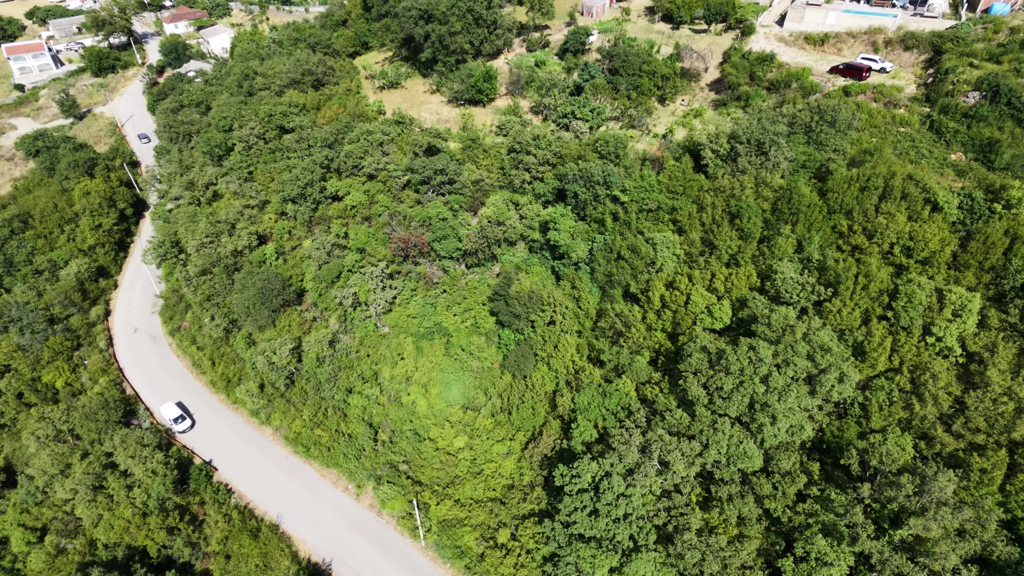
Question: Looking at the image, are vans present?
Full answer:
Yes, the frame does contain a van.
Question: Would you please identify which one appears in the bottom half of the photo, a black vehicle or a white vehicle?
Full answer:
The feature located in the bottom half of the photo is a white vehicle.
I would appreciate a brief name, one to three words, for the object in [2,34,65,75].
house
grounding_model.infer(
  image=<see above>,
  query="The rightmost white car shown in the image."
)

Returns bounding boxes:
[857,53,893,75]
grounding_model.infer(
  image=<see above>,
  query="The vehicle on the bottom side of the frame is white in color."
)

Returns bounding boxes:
[159,401,192,433]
